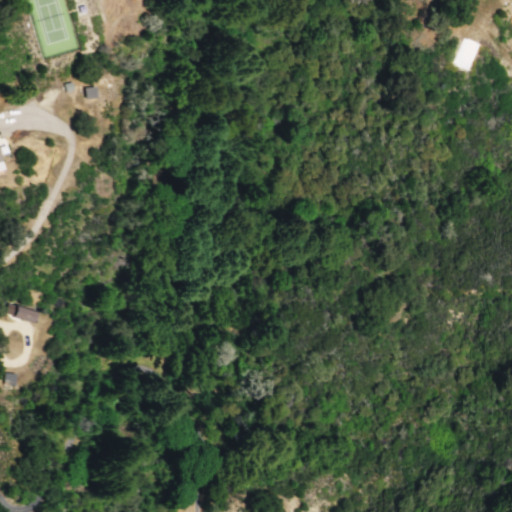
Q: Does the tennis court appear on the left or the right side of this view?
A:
left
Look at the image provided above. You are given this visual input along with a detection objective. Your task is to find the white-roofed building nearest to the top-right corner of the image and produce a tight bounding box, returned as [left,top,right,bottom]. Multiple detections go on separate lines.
[452,38,481,70]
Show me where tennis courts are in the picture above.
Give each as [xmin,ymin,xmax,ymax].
[28,0,78,58]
